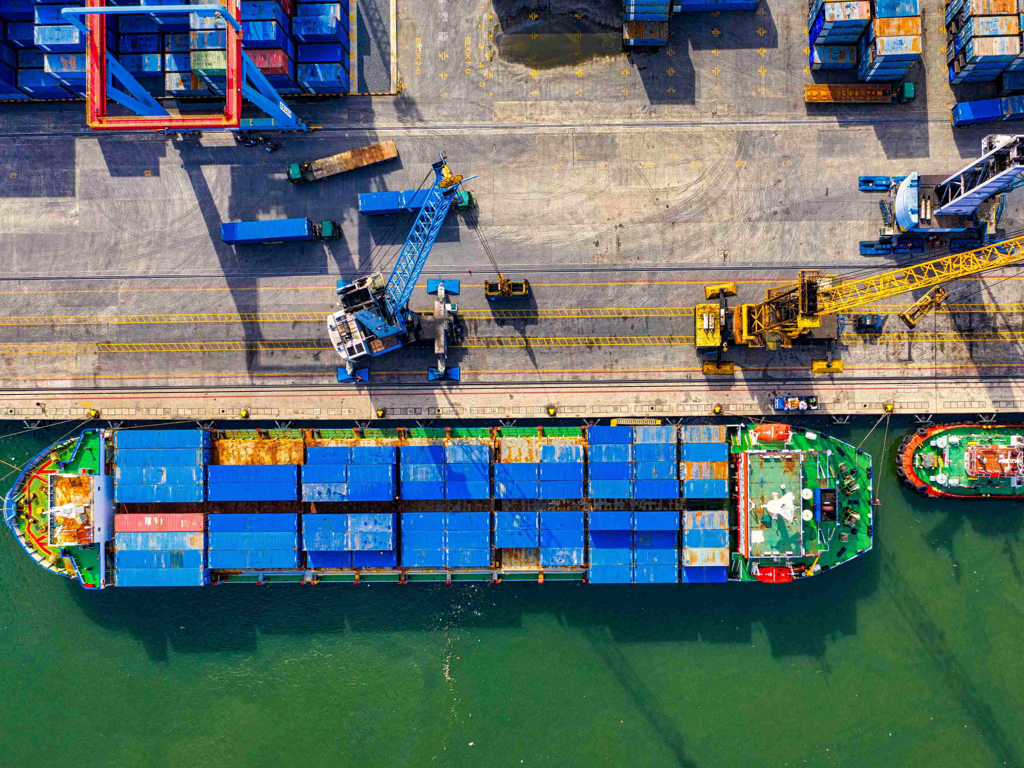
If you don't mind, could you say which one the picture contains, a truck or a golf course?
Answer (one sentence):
The one in the frame is a truck.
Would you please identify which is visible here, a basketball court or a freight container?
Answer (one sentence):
It is a freight container that can be seen here.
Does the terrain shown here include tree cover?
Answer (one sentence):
No, no tree cover is visible.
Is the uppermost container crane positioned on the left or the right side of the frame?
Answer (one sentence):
The uppermost container crane is on the left side of the image.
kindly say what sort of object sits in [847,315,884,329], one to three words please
work vehicle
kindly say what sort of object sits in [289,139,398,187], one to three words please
truck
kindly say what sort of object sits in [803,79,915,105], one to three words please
truck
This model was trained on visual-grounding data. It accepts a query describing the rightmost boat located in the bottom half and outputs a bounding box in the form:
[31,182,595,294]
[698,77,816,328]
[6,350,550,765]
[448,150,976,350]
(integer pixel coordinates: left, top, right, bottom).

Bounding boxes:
[896,421,1024,501]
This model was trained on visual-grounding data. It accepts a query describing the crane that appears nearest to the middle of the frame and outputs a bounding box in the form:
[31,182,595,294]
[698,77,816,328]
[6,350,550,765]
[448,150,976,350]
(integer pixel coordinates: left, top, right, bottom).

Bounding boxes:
[328,133,497,382]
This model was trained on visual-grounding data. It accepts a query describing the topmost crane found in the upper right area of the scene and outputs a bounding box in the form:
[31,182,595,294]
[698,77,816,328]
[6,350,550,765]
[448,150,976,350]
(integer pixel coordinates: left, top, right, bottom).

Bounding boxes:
[856,124,1024,256]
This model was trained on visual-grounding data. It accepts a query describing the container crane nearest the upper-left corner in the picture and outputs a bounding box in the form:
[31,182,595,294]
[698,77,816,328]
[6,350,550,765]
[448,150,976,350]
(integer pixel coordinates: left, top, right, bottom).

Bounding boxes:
[66,0,324,135]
